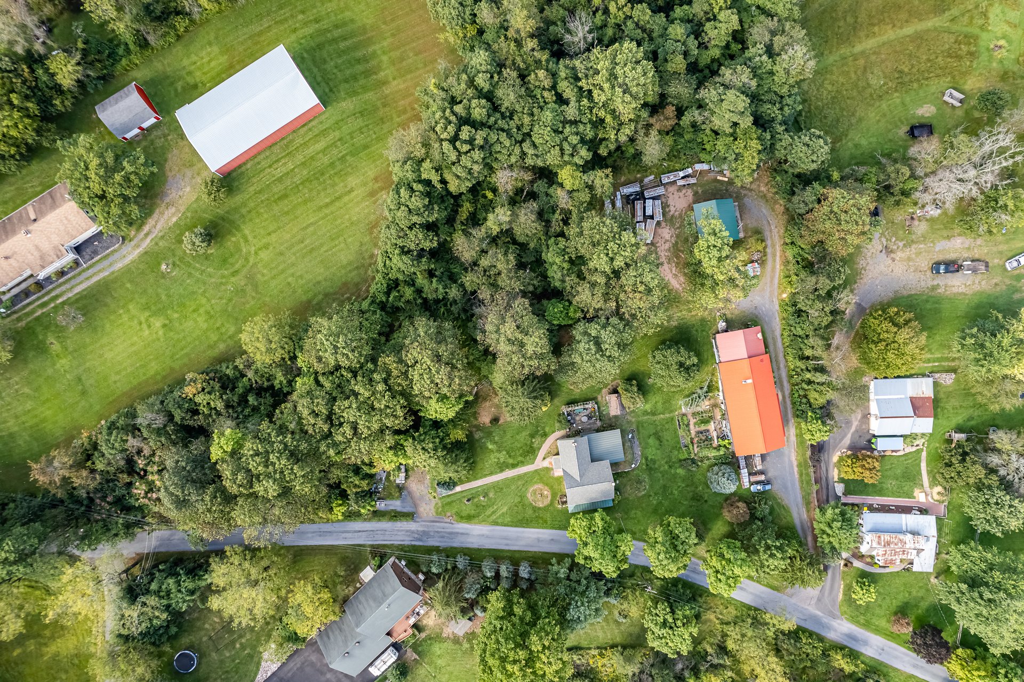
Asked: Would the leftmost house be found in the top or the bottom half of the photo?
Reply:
top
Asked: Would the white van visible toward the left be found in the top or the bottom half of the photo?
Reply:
bottom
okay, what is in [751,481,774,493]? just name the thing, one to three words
vehicle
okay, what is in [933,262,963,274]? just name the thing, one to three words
vehicle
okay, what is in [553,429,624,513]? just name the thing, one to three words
house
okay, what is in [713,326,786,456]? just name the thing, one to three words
barn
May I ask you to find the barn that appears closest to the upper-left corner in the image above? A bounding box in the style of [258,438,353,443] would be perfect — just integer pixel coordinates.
[97,82,162,143]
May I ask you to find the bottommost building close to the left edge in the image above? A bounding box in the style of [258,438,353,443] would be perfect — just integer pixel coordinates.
[0,181,101,289]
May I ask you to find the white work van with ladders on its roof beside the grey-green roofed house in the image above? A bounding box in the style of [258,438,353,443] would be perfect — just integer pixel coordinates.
[366,649,398,682]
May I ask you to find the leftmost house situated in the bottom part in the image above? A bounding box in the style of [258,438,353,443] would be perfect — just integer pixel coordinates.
[317,557,430,677]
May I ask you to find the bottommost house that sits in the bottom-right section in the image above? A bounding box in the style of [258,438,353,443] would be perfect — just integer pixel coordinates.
[857,511,942,572]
